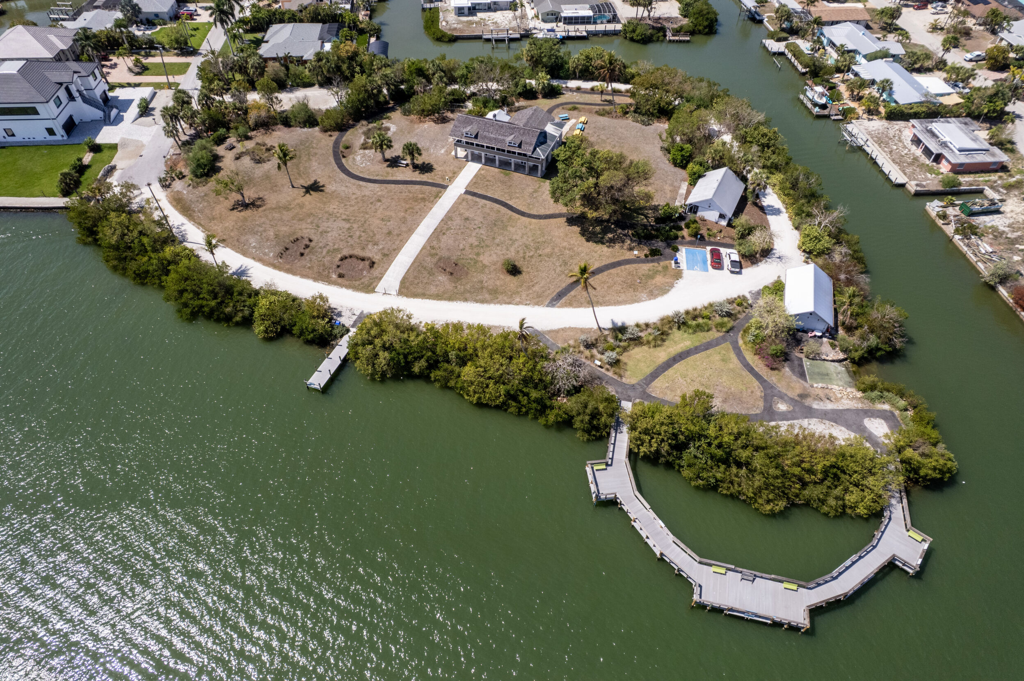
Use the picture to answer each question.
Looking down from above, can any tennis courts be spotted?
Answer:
No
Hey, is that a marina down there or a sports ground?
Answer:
marina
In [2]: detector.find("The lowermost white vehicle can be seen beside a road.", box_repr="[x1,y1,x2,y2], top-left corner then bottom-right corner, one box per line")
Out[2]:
[726,249,742,271]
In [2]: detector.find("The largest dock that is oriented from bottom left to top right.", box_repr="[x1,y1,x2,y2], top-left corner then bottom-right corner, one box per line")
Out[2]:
[303,328,356,399]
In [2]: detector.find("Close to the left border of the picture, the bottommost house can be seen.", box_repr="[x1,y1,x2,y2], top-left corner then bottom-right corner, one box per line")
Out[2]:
[0,54,116,141]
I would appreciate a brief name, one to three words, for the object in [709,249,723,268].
car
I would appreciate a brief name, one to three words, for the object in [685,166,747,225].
house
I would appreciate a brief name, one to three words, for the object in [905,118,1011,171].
house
